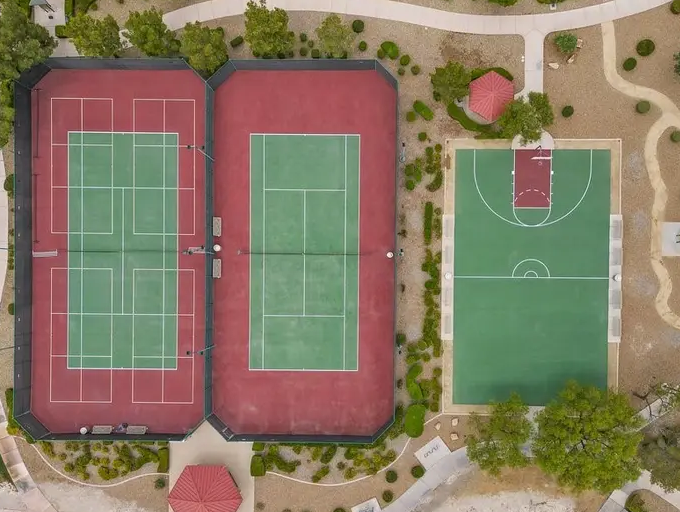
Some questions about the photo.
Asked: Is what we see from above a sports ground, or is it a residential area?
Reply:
sports ground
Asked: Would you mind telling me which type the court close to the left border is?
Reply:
tennis court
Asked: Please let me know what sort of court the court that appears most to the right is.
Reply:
basketball court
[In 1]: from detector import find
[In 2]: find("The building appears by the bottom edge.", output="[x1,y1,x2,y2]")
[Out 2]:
[167,462,243,512]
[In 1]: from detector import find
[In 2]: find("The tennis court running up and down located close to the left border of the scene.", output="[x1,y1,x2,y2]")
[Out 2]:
[31,69,206,434]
